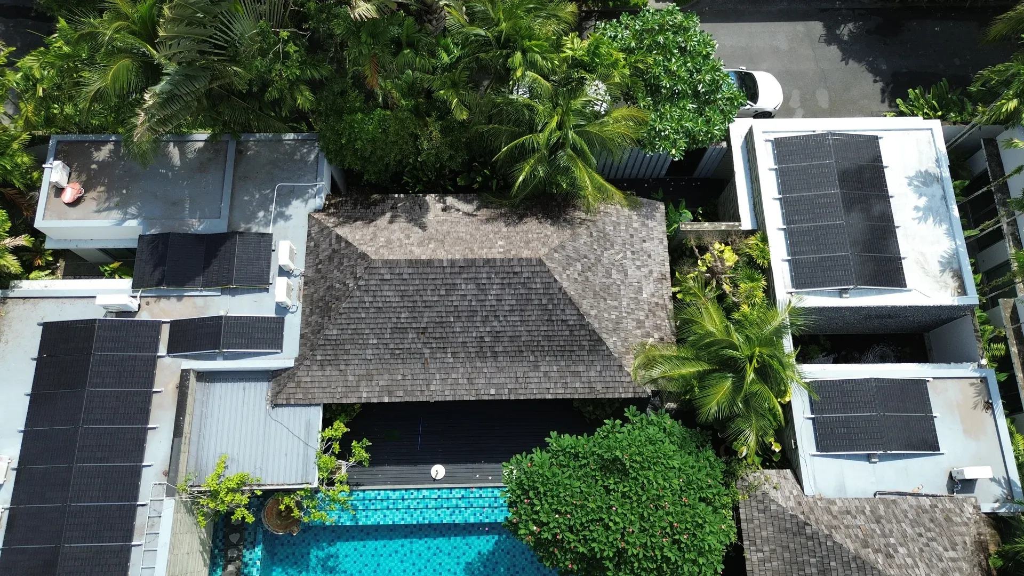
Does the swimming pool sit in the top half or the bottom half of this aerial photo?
bottom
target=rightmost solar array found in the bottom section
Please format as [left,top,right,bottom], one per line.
[801,376,951,460]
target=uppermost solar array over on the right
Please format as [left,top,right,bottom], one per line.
[760,130,915,294]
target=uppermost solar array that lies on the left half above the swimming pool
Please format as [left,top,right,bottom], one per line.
[127,233,281,290]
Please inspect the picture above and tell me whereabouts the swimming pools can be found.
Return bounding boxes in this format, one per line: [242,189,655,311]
[219,481,637,576]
